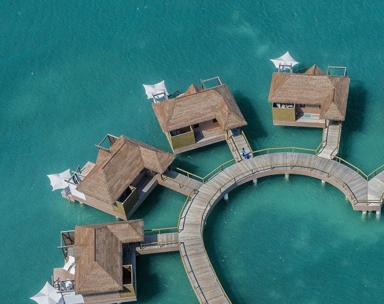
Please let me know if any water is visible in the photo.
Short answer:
Yes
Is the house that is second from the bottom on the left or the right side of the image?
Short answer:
left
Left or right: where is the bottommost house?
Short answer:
left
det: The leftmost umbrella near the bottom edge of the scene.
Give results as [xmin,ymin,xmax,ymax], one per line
[30,281,64,304]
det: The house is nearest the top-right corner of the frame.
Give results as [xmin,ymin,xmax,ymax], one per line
[267,60,348,134]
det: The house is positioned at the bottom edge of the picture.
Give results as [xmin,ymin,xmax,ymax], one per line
[52,217,146,304]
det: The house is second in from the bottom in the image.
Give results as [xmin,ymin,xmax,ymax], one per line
[64,131,178,220]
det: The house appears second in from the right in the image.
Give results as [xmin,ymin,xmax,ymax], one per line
[154,75,243,154]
